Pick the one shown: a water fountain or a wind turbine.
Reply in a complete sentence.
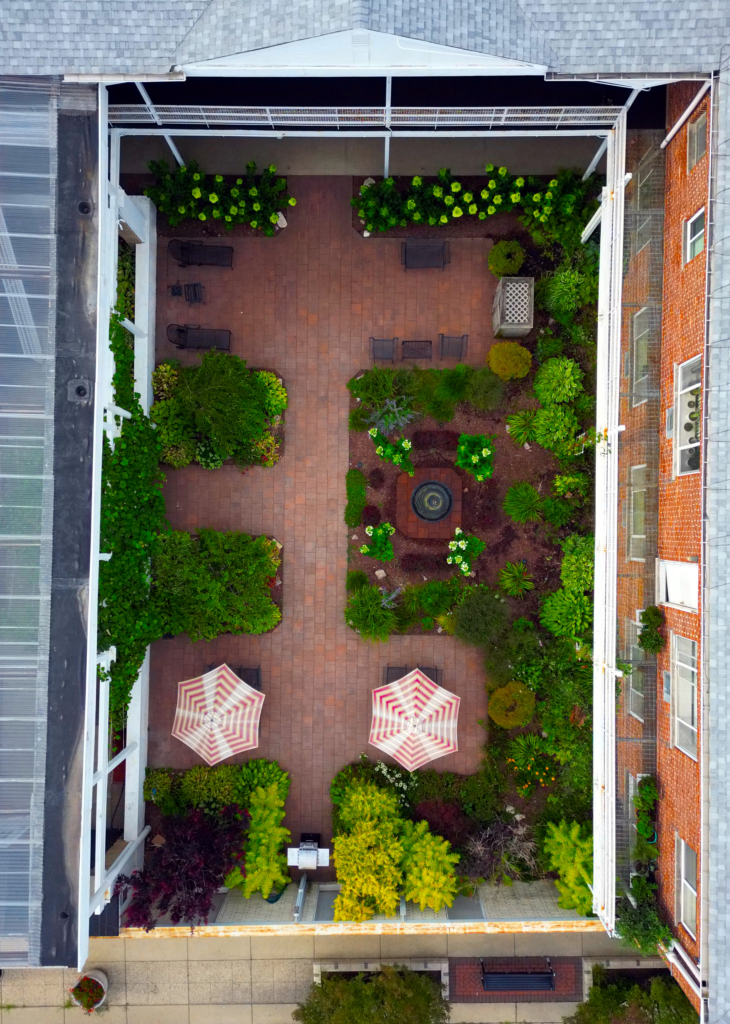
I can see a water fountain in this picture.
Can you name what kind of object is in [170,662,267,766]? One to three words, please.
umbrella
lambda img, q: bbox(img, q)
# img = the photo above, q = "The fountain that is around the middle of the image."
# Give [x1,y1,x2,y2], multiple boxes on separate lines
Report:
[411,479,453,521]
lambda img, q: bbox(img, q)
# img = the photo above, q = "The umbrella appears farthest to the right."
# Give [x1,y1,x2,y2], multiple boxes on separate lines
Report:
[368,669,462,773]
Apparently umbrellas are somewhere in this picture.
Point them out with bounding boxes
[368,669,462,773]
[170,662,267,766]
